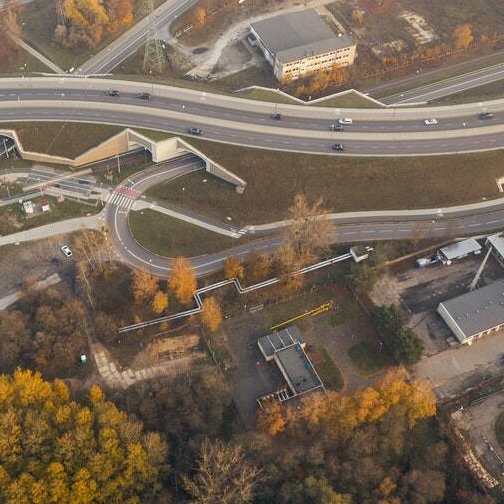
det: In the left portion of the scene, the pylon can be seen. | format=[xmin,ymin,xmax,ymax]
[144,0,168,75]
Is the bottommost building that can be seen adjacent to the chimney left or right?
right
